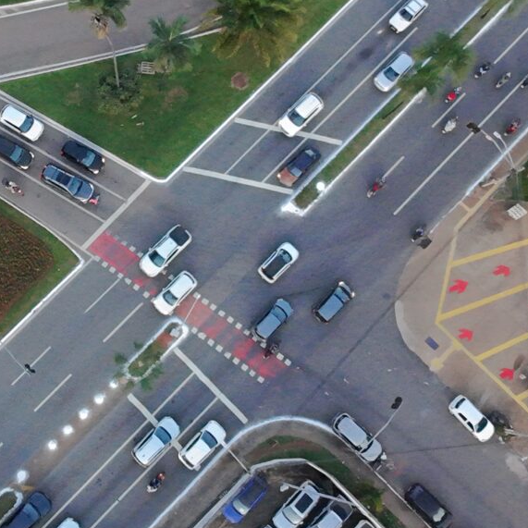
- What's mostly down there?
paved ground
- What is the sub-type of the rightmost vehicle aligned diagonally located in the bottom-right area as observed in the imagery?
car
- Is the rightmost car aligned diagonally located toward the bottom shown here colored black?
No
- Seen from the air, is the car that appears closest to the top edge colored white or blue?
white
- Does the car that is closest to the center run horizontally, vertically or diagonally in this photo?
diagonally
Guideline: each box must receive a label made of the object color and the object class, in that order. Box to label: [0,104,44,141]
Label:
white car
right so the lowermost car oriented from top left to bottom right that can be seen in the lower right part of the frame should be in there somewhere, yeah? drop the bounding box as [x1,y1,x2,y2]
[399,477,453,528]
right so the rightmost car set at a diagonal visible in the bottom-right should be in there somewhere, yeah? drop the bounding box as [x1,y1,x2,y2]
[443,391,495,443]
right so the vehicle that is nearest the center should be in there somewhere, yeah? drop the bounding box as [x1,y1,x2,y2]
[256,241,299,285]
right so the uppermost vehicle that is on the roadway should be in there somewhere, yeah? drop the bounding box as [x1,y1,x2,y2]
[388,0,428,35]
